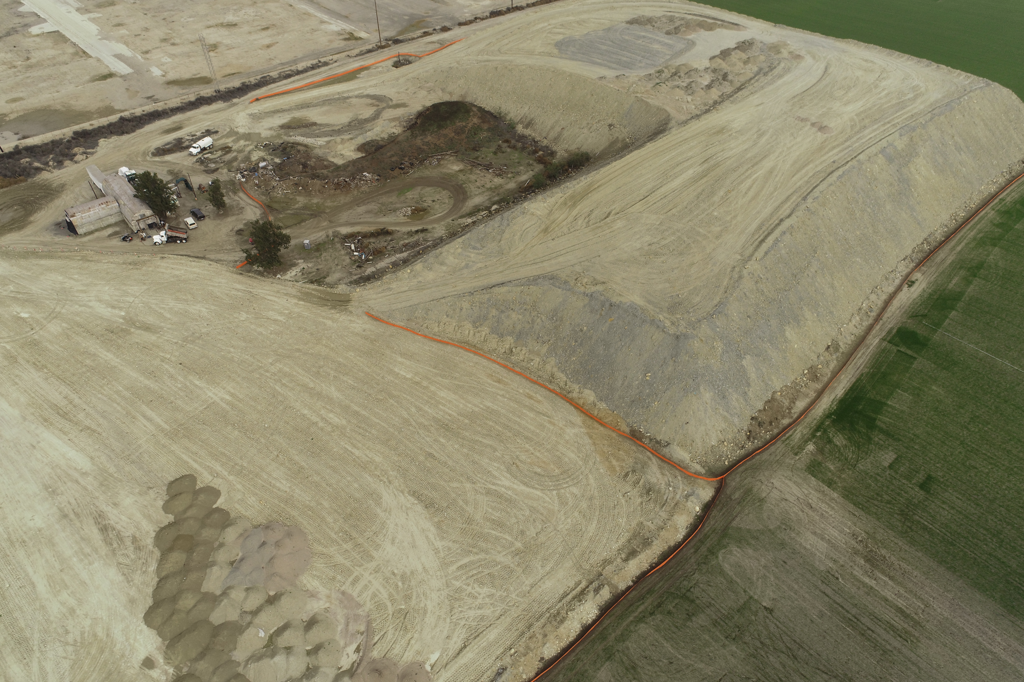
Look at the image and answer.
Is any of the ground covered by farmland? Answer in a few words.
Yes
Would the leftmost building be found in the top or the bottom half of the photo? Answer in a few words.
top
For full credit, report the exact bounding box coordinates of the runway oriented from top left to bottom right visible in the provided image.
[18,0,172,77]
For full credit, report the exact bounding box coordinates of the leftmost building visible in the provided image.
[65,197,121,235]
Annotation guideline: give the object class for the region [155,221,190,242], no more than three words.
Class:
truck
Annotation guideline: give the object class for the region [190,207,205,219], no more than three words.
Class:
vehicle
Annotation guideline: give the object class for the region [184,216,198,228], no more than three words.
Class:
vehicle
